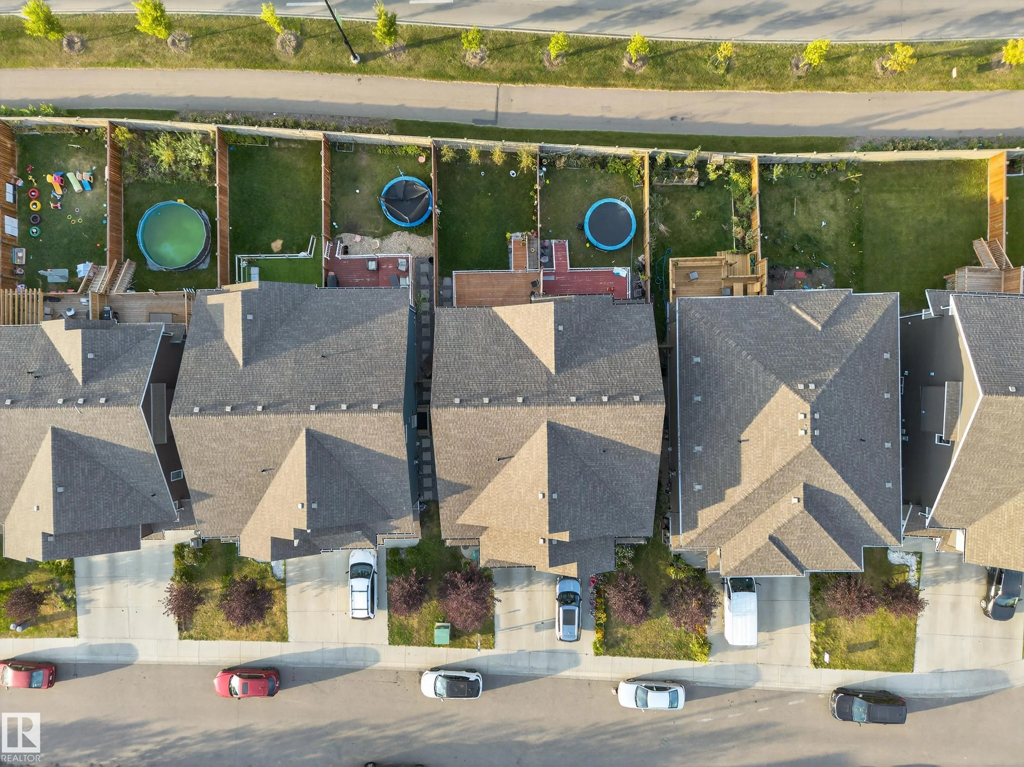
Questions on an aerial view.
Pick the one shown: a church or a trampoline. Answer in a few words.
trampoline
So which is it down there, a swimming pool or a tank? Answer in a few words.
swimming pool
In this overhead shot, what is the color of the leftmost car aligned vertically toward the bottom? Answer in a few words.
white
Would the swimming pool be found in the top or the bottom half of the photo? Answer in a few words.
top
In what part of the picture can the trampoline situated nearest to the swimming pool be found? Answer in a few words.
top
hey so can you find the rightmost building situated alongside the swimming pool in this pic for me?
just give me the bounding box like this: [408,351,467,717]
[169,282,425,561]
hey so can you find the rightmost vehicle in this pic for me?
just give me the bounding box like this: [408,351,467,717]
[978,566,1020,621]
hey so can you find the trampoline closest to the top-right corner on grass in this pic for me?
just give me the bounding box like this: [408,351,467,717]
[584,196,636,252]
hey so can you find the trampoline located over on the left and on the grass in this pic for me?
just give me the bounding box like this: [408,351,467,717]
[377,172,433,229]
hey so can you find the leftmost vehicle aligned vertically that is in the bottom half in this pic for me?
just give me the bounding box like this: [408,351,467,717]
[346,549,379,617]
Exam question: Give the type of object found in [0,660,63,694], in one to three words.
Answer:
car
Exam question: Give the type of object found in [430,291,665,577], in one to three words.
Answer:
house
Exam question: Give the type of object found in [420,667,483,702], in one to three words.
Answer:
car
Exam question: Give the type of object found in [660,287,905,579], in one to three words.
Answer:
house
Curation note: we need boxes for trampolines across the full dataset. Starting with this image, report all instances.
[584,196,636,252]
[377,172,433,229]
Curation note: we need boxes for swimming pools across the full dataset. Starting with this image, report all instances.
[136,199,215,273]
